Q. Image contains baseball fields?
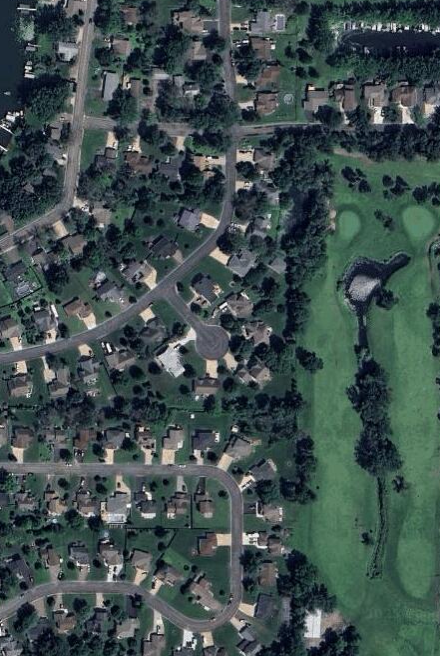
No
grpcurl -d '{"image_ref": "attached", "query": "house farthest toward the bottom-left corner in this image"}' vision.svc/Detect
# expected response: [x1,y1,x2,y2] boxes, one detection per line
[0,639,26,656]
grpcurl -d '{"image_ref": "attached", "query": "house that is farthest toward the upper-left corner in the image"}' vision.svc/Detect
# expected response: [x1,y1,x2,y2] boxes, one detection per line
[57,39,78,64]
